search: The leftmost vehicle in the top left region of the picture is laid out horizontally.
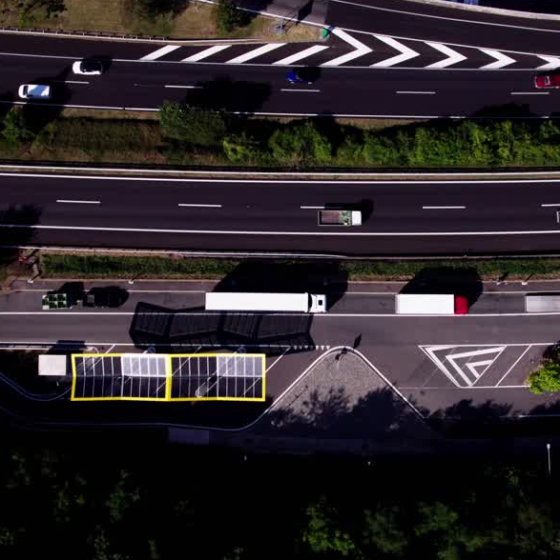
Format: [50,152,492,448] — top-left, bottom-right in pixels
[18,82,52,100]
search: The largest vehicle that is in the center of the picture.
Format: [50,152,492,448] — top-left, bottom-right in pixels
[207,292,323,313]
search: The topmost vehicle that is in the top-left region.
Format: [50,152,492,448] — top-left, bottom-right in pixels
[73,58,104,75]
